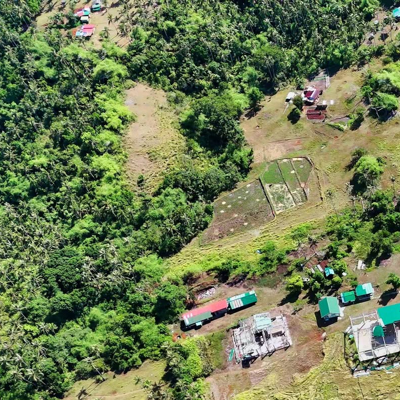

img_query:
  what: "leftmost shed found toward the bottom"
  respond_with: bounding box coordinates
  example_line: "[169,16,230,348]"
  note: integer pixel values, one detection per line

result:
[183,302,231,331]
